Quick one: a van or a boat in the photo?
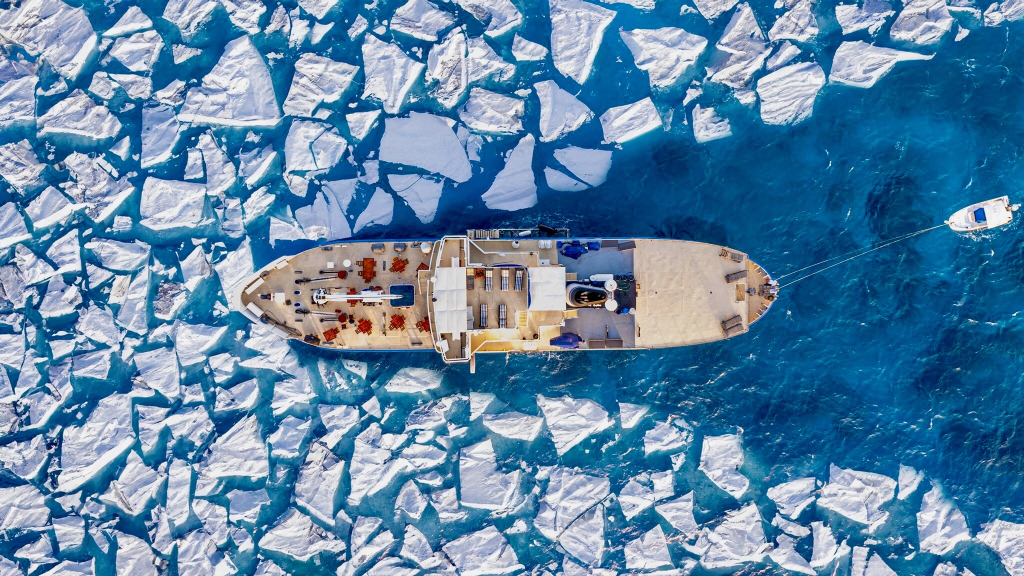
boat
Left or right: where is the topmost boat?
right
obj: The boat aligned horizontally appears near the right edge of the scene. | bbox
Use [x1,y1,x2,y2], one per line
[944,195,1022,231]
